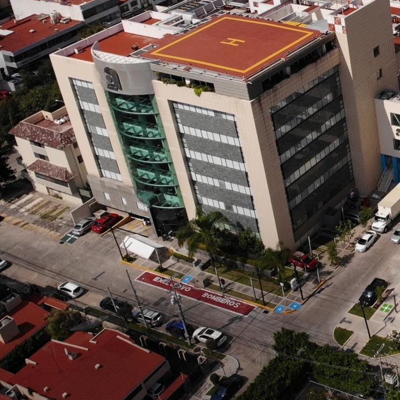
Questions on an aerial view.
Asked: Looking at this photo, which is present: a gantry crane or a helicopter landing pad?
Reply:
helicopter landing pad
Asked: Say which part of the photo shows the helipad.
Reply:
top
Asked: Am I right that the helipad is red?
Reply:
Yes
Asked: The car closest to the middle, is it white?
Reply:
No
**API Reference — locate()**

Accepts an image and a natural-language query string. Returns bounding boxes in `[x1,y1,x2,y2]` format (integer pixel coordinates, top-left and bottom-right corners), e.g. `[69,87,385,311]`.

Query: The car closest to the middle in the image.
[88,213,124,233]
